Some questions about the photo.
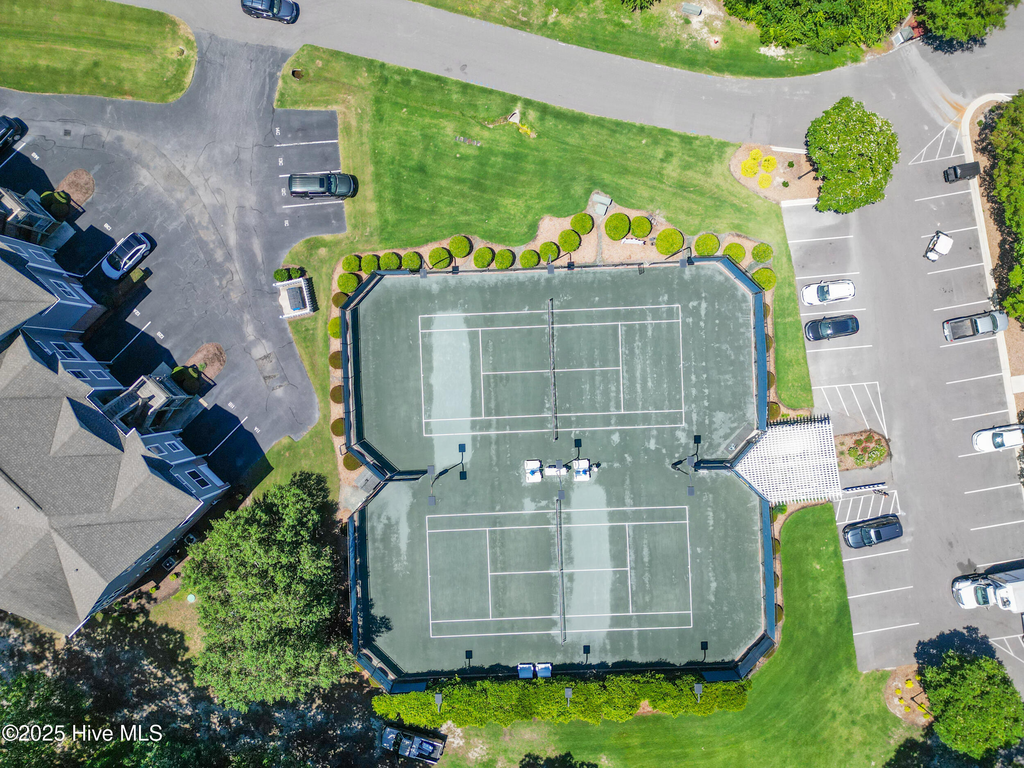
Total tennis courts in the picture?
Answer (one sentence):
There are 2 tennis courts in the image.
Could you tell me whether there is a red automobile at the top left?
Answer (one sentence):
No, no red automobile is visible at the top left.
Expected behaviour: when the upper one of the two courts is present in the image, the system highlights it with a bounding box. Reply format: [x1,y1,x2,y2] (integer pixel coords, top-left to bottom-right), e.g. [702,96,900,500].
[347,261,759,477]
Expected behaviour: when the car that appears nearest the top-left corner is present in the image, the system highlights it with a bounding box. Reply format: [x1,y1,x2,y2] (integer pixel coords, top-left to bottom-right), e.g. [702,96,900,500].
[0,114,29,165]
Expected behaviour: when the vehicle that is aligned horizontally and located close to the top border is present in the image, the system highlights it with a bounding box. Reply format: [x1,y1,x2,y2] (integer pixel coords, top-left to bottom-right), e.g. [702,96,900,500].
[238,0,296,25]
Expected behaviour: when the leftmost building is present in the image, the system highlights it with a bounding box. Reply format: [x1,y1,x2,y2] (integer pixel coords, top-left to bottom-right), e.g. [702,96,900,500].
[0,175,227,638]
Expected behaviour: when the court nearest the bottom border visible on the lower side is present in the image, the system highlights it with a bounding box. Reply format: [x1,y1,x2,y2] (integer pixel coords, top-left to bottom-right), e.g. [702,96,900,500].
[353,464,766,681]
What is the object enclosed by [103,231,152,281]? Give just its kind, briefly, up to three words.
car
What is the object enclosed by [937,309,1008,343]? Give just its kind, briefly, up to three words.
truck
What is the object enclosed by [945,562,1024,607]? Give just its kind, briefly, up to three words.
camper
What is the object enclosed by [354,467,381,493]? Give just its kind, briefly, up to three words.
shed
